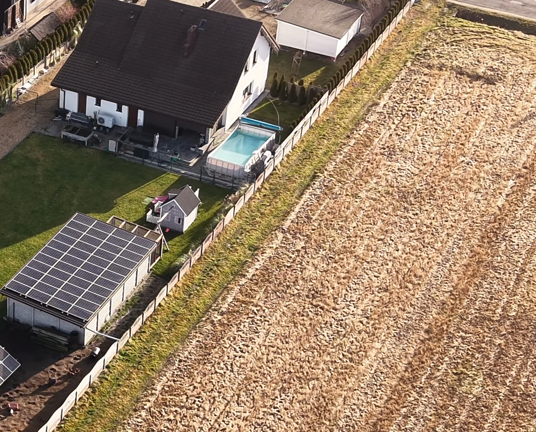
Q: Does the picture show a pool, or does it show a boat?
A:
pool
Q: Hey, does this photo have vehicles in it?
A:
No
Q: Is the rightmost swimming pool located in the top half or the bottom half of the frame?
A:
top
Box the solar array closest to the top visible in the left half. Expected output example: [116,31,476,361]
[5,213,156,320]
